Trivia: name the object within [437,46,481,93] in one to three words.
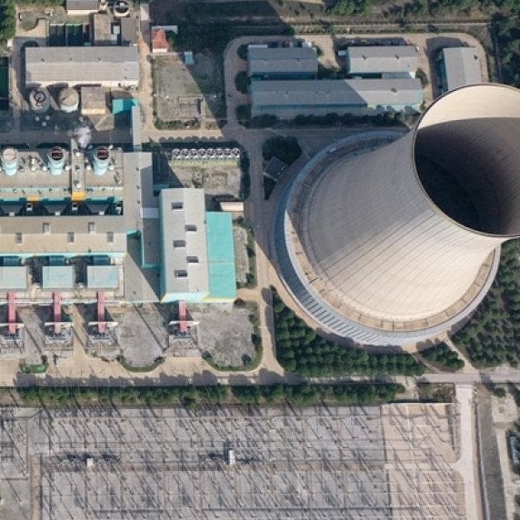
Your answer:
building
